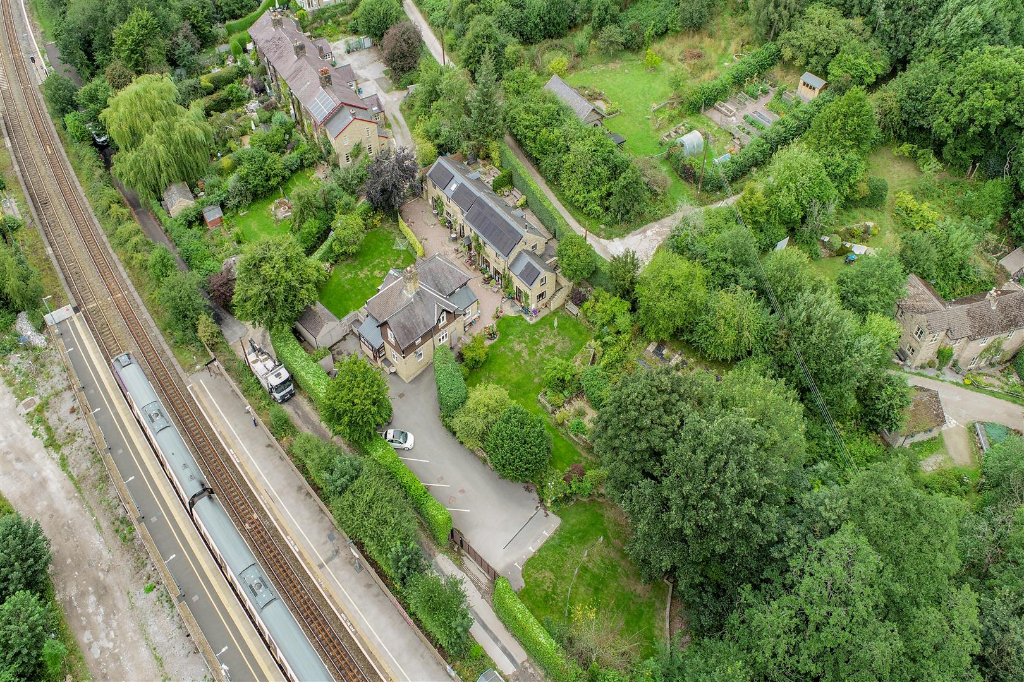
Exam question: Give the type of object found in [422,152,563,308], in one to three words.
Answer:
house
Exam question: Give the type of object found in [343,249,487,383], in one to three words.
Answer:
house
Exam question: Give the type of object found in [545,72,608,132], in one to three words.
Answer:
barn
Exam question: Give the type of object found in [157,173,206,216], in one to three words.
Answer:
building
